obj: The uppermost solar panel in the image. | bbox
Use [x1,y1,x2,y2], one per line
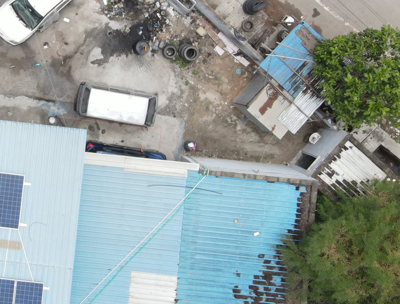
[0,172,25,229]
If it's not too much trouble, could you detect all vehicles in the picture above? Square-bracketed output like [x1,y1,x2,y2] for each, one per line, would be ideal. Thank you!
[86,135,166,156]
[72,79,159,132]
[0,0,70,44]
